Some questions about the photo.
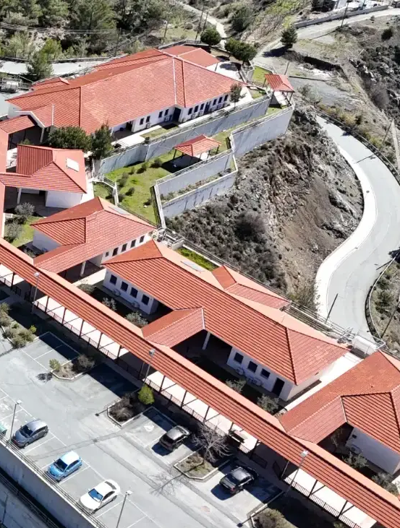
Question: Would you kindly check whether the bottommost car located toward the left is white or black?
white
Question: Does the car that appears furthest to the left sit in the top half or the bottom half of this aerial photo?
bottom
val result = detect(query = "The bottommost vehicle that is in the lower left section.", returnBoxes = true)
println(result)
[81,478,124,514]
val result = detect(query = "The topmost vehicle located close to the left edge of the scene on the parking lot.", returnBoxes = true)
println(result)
[14,418,51,449]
